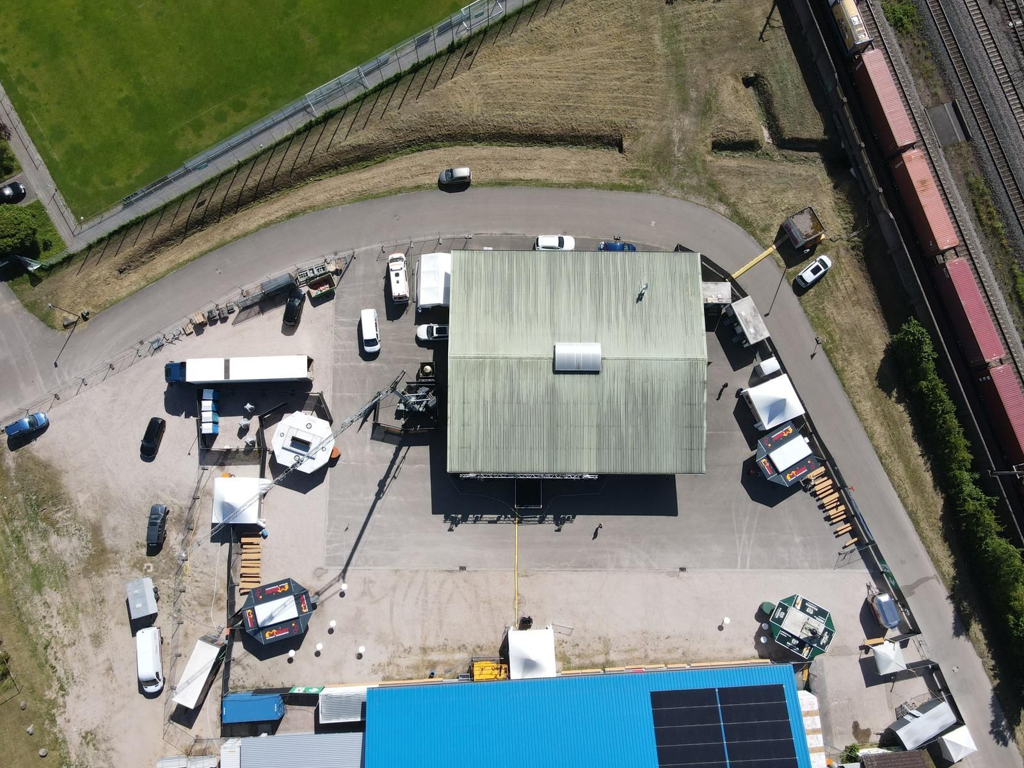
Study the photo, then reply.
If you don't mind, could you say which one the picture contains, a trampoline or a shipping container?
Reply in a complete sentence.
Looking from above, you can make out a shipping container.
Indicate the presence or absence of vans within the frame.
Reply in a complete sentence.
Yes, I can see a van in this picture.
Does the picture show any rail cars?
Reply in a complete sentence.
Yes, there's a rail car here.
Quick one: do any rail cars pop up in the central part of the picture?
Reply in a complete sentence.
No, there's no rail car to be seen in the central part of the picture.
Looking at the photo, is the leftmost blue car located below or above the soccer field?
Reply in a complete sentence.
Relative to the soccer field, the leftmost blue car lies below it.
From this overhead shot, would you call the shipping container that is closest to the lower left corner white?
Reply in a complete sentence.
No, the shipping container that is closest to the lower left corner is blue.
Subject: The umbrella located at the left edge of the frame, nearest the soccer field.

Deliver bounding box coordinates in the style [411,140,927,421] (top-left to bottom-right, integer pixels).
[11,253,51,271]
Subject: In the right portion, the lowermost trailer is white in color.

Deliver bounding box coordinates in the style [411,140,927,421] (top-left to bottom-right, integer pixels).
[877,686,956,749]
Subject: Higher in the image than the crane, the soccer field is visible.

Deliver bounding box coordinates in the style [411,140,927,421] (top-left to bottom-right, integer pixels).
[0,0,482,219]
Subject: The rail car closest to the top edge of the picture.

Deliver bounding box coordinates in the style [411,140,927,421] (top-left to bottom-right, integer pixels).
[824,0,865,62]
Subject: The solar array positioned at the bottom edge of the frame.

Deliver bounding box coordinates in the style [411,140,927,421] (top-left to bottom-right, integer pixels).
[651,685,798,768]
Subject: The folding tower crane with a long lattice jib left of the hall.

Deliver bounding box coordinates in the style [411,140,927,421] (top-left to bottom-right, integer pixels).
[181,370,445,561]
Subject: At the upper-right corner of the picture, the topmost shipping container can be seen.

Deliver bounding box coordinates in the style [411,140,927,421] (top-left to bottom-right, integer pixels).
[825,0,878,57]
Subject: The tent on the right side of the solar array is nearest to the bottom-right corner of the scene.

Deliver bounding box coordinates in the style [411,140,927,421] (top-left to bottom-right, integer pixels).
[931,720,978,763]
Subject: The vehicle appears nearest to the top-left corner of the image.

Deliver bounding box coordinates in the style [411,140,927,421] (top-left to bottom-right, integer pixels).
[0,182,26,203]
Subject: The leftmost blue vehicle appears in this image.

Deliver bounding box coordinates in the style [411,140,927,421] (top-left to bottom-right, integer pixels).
[2,412,51,440]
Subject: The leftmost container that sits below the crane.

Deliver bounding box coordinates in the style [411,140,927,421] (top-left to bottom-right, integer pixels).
[223,688,286,721]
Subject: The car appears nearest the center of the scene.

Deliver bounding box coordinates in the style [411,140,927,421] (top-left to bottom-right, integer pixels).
[417,322,448,341]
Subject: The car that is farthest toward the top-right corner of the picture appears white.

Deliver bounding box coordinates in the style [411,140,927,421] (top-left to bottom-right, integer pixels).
[793,254,832,289]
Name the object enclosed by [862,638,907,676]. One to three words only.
tent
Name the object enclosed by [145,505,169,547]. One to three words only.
car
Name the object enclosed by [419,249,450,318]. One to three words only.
tent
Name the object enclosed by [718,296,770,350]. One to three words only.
shed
